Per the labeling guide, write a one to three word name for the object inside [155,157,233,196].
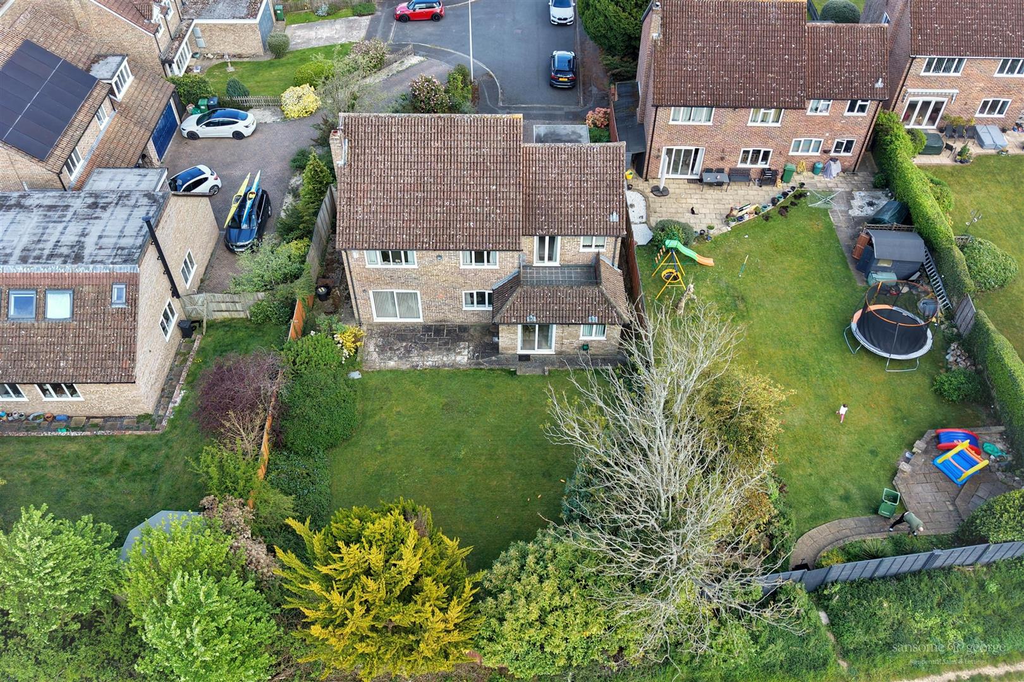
car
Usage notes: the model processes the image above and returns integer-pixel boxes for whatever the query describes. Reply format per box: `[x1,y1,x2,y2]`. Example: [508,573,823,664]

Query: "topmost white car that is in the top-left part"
[178,105,261,142]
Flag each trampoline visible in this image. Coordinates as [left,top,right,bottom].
[842,282,941,377]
